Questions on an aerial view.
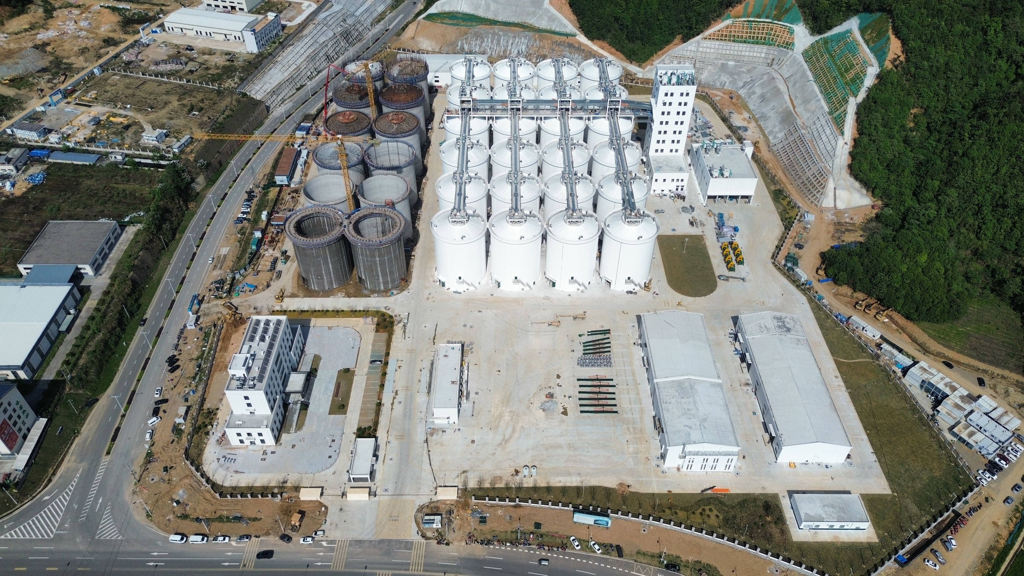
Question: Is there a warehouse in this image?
Yes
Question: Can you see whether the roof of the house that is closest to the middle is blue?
No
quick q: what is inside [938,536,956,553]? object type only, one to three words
vehicle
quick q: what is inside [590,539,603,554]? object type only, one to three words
vehicle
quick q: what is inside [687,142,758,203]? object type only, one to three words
house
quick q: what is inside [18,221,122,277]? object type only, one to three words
building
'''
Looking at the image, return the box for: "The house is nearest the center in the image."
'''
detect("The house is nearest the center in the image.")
[428,344,463,423]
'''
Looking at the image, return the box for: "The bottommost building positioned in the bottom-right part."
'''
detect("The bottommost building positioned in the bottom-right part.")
[792,495,869,530]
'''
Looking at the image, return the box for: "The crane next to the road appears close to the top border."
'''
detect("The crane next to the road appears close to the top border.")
[344,25,427,134]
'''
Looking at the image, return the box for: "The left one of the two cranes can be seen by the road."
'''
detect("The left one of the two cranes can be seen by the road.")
[192,131,376,215]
